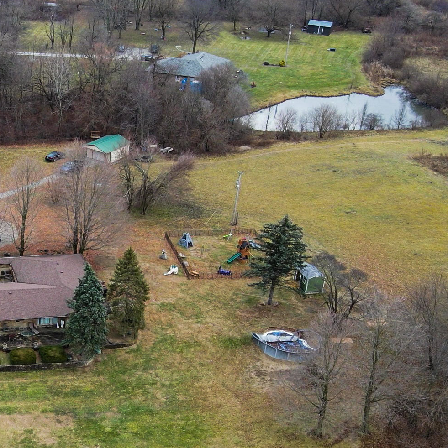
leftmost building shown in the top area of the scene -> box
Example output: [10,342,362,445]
[84,129,133,163]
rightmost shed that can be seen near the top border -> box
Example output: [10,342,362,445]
[308,19,334,35]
